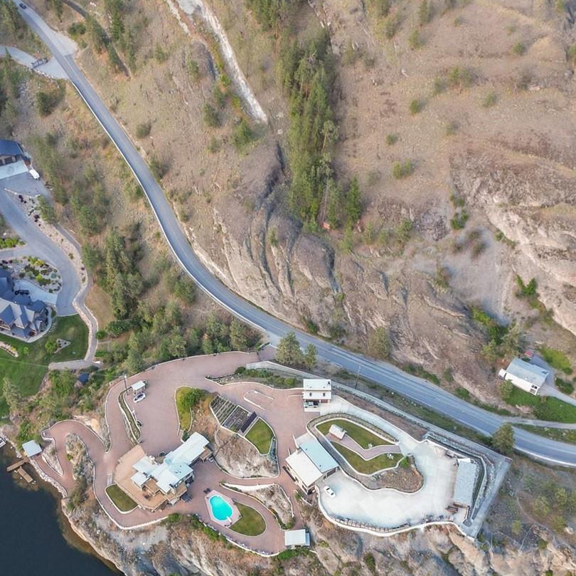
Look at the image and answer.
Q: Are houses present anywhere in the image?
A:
Yes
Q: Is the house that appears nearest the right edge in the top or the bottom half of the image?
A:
bottom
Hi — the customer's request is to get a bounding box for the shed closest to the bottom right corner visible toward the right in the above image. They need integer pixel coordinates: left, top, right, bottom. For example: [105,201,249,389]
[453,458,476,510]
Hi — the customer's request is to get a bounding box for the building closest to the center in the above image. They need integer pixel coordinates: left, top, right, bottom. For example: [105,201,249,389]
[304,379,331,399]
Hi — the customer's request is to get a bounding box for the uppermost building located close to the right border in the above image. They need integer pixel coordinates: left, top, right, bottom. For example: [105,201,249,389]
[504,358,549,399]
